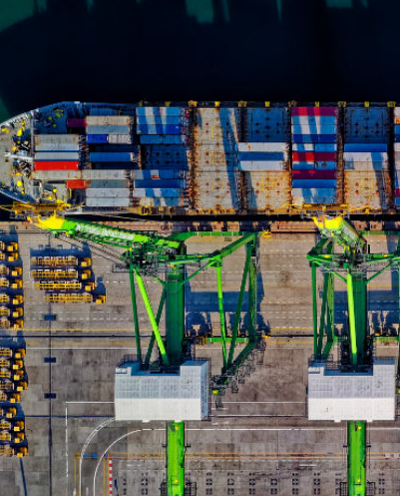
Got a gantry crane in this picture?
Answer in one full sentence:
Yes, there is a gantry crane in the image.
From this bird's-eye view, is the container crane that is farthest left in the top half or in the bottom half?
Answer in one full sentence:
Seen from above, the container crane that is farthest left lies in the bottom half of the view.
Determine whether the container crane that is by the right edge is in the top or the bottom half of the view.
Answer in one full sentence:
You can find the container crane that is by the right edge in the bottom half.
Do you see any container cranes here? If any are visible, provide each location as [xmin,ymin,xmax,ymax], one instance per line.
[4,198,275,496]
[283,198,400,496]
